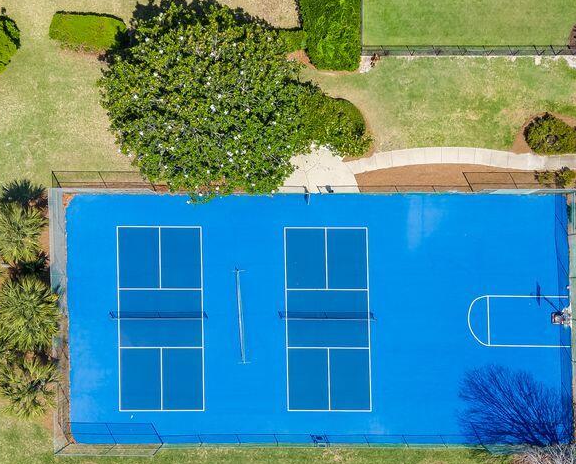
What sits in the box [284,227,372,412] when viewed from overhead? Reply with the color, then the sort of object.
blue sports court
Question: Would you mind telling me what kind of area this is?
sports ground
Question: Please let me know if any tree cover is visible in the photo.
Yes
